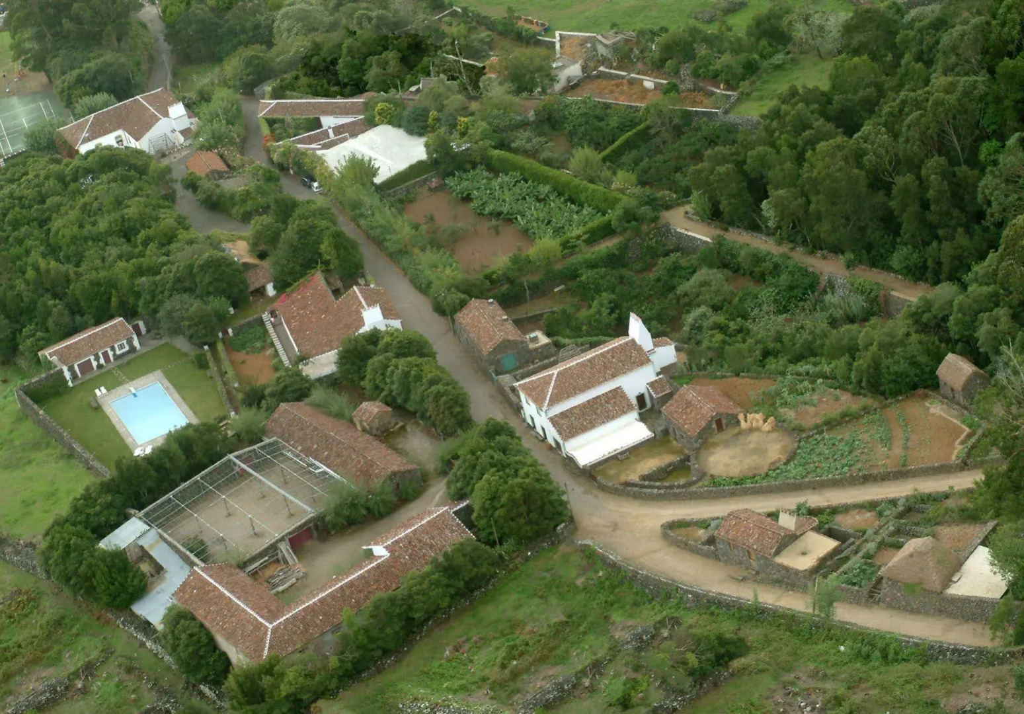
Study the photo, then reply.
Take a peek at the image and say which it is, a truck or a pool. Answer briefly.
pool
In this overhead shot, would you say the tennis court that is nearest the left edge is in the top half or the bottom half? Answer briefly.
top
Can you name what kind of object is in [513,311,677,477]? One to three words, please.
house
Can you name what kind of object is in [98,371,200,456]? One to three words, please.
swimming pool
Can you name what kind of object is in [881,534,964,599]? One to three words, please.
barn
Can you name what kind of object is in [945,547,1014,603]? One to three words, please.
shed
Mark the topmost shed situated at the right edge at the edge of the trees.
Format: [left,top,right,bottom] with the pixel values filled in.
[936,354,989,408]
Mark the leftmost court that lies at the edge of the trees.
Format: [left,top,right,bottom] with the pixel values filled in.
[0,90,69,160]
